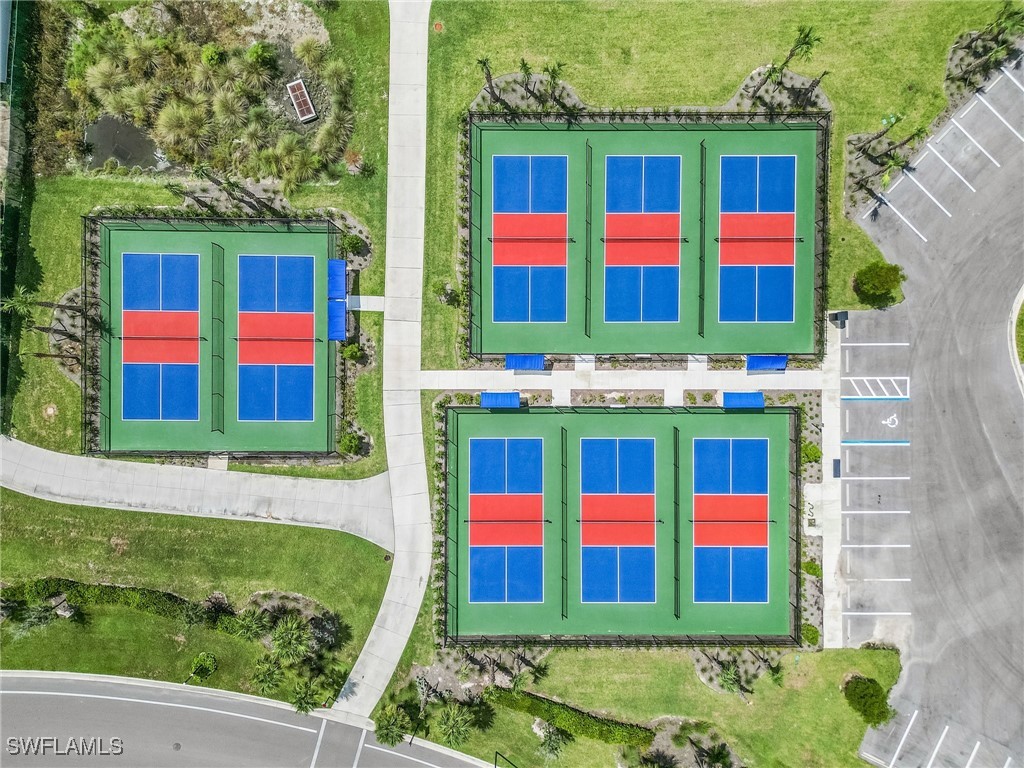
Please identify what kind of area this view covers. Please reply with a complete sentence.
It's a sports ground.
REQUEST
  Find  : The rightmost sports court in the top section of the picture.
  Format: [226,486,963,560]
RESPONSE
[697,123,816,352]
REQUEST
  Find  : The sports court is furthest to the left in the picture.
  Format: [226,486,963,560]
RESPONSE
[99,222,218,451]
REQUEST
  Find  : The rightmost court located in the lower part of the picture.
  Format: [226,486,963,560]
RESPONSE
[671,408,790,636]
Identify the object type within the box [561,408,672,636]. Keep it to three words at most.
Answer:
sports court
